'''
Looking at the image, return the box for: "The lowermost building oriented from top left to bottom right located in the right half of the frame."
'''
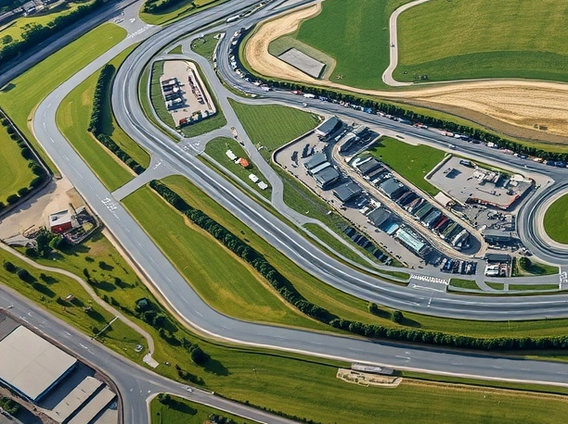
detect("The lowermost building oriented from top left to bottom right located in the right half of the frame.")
[394,227,423,256]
